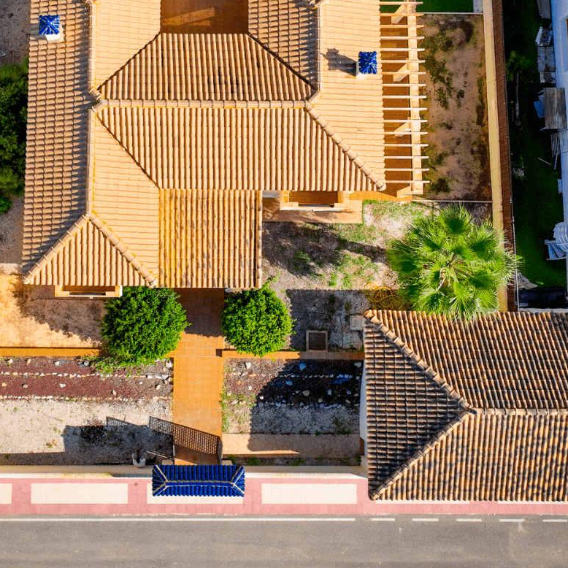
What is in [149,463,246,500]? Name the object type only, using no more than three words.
building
